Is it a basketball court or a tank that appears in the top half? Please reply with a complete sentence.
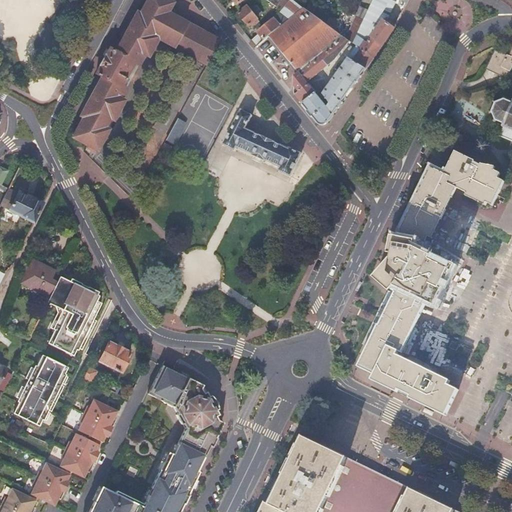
Visible in the top half is a basketball court.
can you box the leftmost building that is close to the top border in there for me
[80,0,222,142]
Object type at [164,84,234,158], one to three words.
basketball court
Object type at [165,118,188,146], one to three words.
shed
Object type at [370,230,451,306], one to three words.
building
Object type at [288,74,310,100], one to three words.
house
